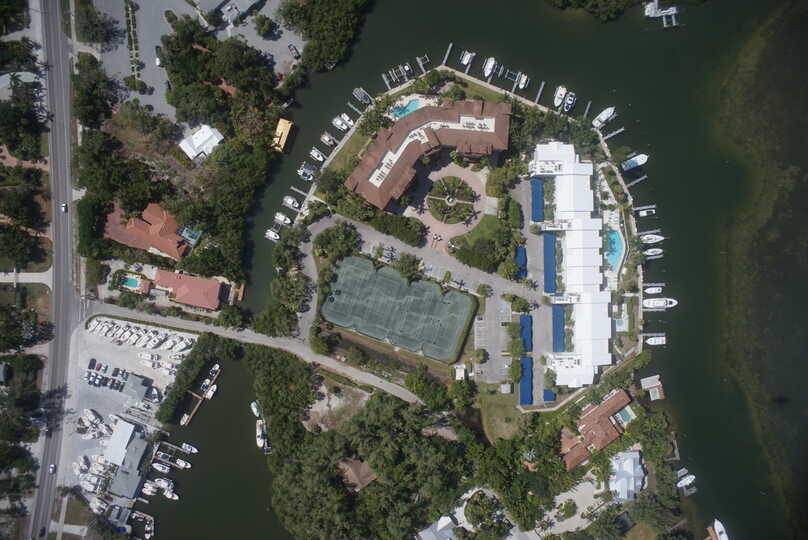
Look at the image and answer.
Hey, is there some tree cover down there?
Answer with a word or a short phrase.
Yes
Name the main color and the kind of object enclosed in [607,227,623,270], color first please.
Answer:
blue swimming pool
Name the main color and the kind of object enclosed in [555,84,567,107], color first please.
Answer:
white boat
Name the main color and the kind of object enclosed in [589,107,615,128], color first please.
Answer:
white boat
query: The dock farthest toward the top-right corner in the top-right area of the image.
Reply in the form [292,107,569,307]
[645,0,678,28]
